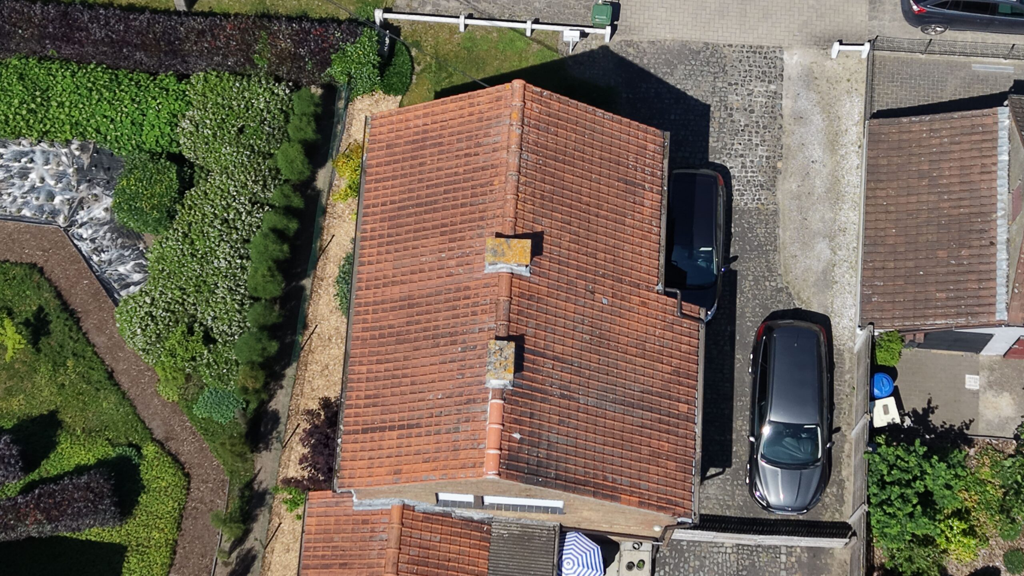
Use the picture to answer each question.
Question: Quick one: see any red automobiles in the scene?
No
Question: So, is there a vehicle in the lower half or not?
Yes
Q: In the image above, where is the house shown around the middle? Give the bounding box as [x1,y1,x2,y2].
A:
[331,83,709,556]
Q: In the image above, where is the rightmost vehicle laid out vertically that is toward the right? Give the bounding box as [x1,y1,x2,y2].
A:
[746,319,835,515]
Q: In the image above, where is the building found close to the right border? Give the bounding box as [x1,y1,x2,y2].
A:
[853,91,1024,356]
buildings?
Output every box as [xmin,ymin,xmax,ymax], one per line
[331,83,709,556]
[853,91,1024,356]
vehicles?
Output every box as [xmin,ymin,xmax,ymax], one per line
[664,168,730,326]
[746,319,835,515]
[900,0,1024,35]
